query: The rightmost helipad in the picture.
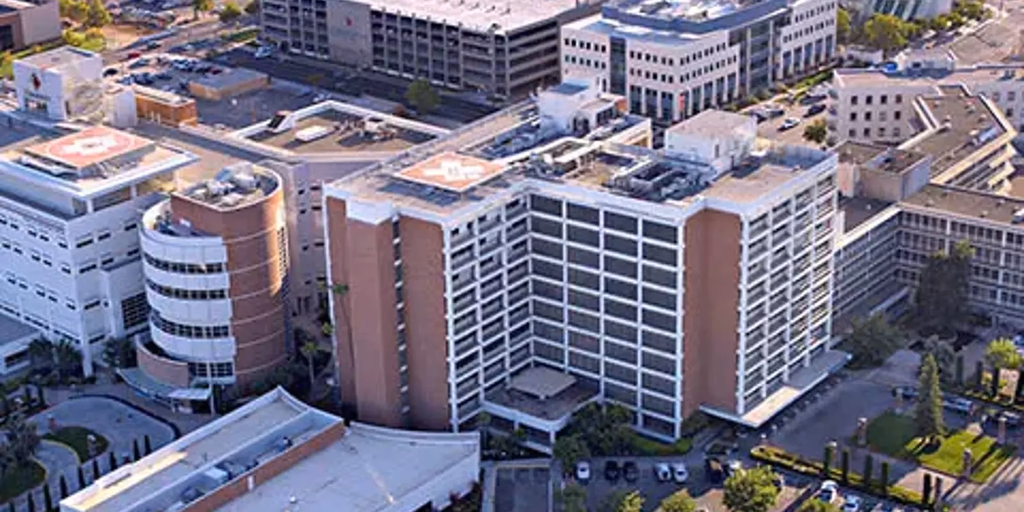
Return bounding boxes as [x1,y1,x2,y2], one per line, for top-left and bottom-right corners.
[389,151,506,198]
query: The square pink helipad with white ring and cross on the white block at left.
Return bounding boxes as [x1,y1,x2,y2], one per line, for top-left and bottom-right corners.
[21,126,155,173]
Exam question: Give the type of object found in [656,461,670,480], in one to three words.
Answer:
car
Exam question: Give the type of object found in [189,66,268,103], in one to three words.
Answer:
building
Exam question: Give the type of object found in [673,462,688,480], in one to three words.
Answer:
car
